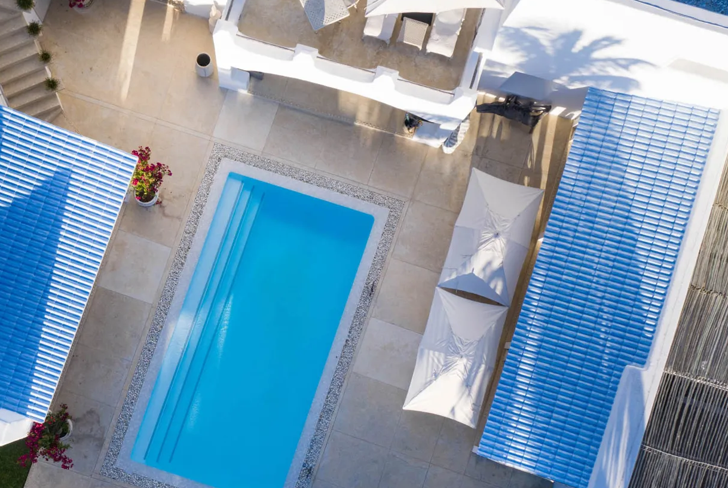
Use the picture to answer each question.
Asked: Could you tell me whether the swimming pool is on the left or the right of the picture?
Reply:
left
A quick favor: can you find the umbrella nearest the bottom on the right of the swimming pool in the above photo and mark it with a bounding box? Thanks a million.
[403,288,508,429]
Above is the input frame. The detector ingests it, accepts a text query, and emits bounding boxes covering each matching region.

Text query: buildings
[214,0,524,147]
[475,89,728,488]
[0,102,137,447]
